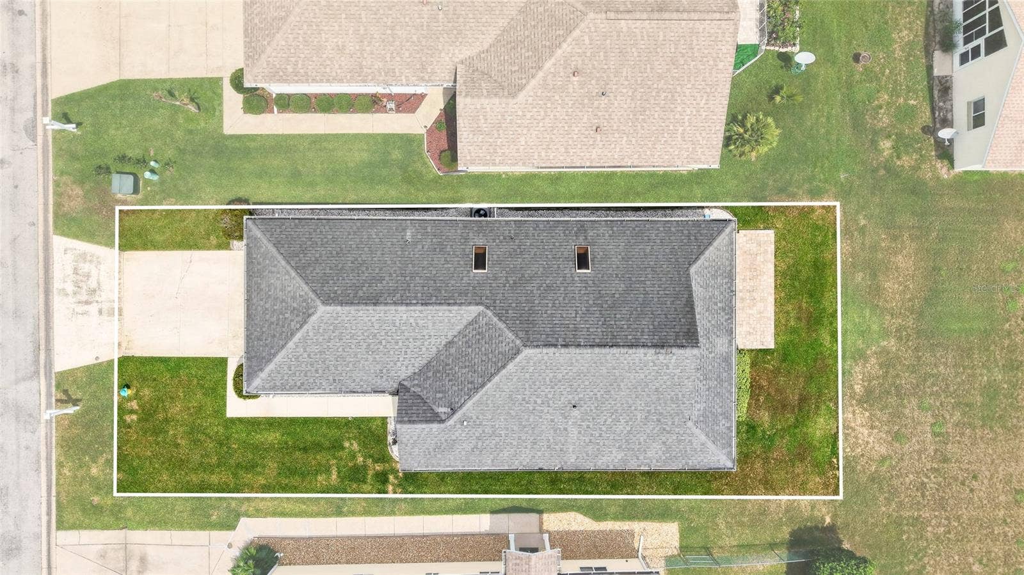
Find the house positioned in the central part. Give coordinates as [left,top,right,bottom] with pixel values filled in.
[245,218,735,471]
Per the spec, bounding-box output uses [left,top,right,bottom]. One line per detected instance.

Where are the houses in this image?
[245,218,735,471]
[267,533,661,575]
[243,0,737,171]
[954,0,1024,170]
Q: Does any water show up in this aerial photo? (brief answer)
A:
No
